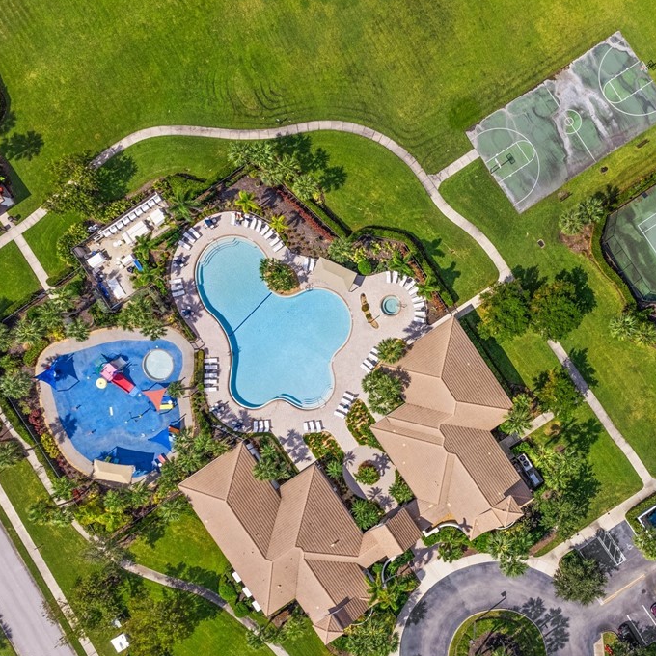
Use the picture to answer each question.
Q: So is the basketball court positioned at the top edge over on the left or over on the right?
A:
right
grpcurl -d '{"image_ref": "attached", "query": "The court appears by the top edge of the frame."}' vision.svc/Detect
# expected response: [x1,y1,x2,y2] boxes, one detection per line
[467,31,656,213]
